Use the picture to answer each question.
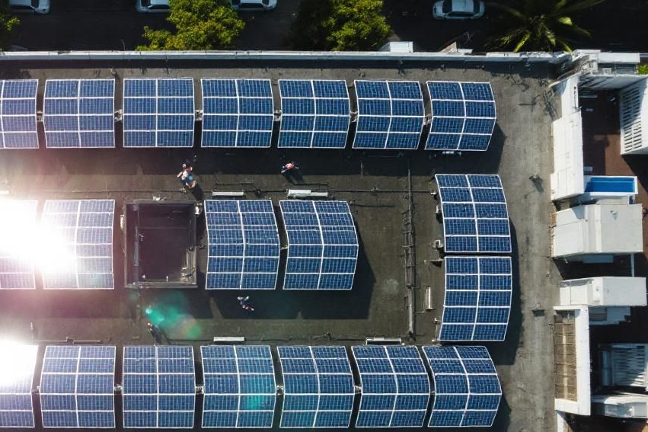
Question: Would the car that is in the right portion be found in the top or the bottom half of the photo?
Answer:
top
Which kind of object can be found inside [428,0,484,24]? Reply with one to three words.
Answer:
car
